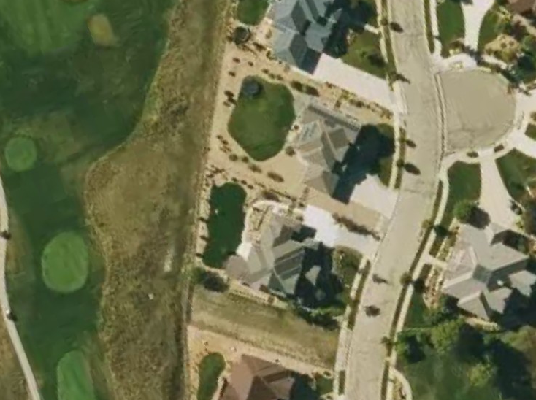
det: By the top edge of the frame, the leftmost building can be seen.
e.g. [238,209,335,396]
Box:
[263,0,346,76]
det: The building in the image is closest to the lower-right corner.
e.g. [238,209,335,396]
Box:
[444,218,536,327]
